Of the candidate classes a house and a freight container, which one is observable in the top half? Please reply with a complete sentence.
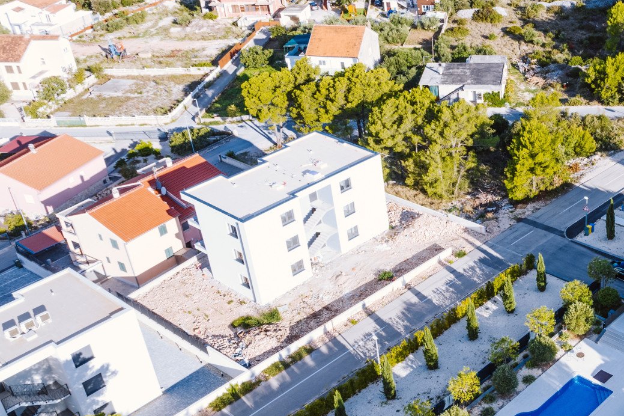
You can see a house in the top half.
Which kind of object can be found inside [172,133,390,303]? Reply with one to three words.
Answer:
building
